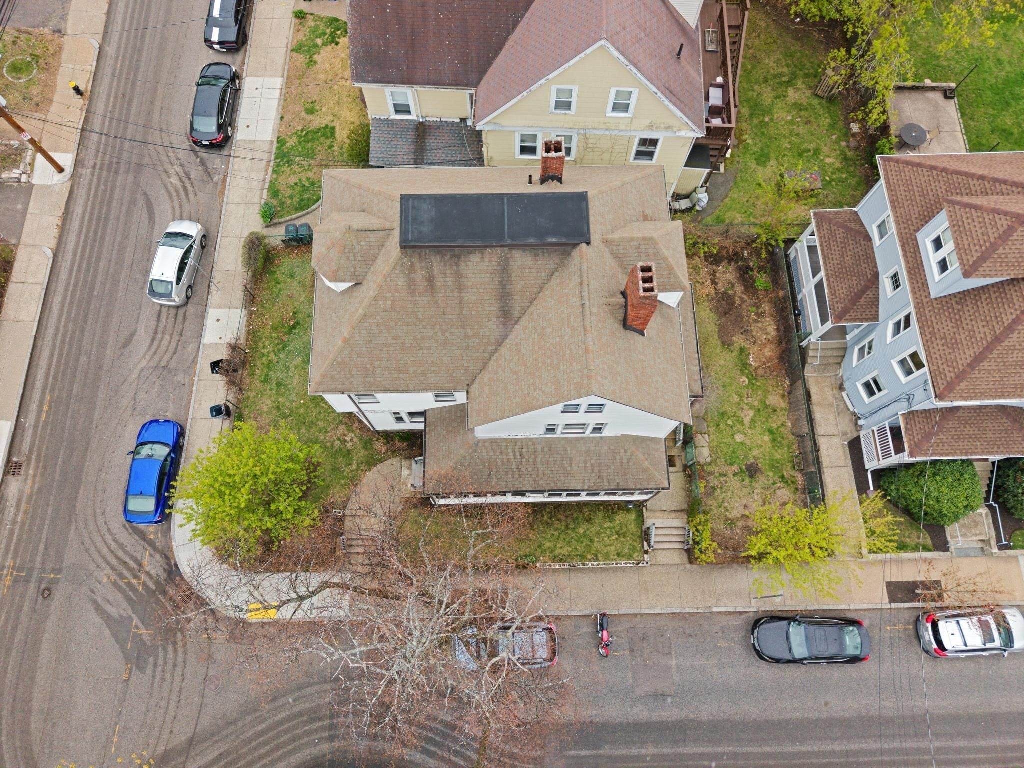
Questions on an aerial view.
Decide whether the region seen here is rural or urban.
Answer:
urban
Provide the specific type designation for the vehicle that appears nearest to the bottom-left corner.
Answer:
car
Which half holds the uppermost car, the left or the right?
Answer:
left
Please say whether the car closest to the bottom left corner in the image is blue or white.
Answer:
blue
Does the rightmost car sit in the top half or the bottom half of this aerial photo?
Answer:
bottom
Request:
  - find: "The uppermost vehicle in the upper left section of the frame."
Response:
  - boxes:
[207,0,251,44]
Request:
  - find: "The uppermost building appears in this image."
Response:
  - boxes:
[348,0,753,200]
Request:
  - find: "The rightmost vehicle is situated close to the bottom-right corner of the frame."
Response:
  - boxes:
[911,608,1024,659]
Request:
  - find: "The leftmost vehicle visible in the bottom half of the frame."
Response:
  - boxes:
[123,420,184,525]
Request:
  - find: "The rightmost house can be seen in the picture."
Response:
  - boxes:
[787,150,1024,491]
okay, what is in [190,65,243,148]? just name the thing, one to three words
car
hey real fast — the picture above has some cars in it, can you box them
[123,420,184,525]
[751,616,874,667]
[190,65,243,148]
[207,0,251,44]
[148,221,207,309]
[911,608,1024,659]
